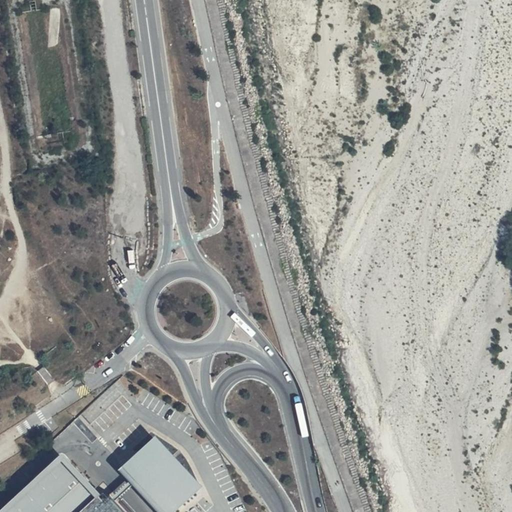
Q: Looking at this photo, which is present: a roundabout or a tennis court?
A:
roundabout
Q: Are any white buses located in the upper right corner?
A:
No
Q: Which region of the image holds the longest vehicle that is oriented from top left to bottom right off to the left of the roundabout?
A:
left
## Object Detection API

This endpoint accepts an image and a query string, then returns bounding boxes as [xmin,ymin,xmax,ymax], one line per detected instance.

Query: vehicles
[314,496,322,509]
[93,360,104,369]
[122,335,136,348]
[229,311,256,338]
[264,346,275,358]
[128,250,136,270]
[114,437,124,448]
[292,396,309,440]
[114,344,125,355]
[104,352,114,362]
[111,275,122,288]
[108,260,128,283]
[283,371,292,384]
[226,493,238,502]
[164,408,173,420]
[118,287,128,298]
[101,367,114,378]
[234,504,246,512]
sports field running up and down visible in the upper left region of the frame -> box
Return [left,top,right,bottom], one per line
[27,8,72,130]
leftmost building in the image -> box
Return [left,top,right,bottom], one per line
[0,452,100,512]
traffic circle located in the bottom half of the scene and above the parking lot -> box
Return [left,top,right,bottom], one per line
[140,264,233,358]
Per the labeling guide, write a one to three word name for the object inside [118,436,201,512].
building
